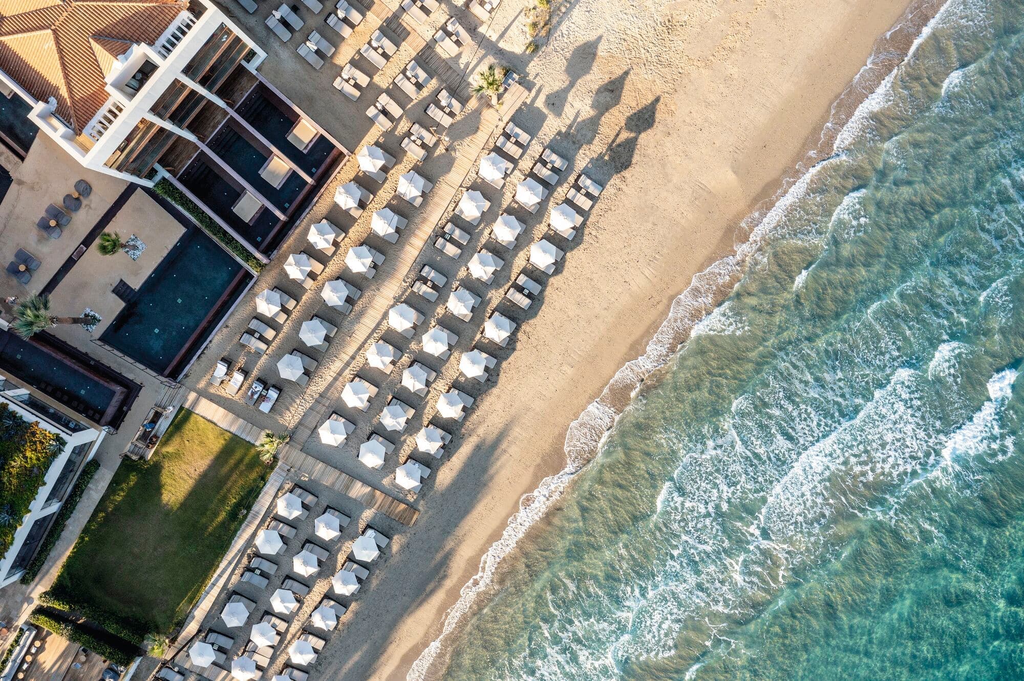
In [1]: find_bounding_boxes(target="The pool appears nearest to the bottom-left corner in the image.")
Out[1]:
[0,319,142,431]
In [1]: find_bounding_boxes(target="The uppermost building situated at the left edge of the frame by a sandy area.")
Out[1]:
[0,0,273,194]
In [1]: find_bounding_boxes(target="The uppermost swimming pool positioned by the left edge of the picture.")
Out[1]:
[0,98,47,159]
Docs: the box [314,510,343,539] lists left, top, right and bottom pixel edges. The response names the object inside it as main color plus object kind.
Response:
white umbrella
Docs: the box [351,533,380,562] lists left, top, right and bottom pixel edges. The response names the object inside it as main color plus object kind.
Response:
white umbrella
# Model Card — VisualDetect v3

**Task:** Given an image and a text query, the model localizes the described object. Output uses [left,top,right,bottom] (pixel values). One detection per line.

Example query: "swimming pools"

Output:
[237,82,342,181]
[0,98,47,159]
[0,319,142,431]
[207,117,314,217]
[101,200,261,384]
[178,150,285,250]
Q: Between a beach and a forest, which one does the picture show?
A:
beach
